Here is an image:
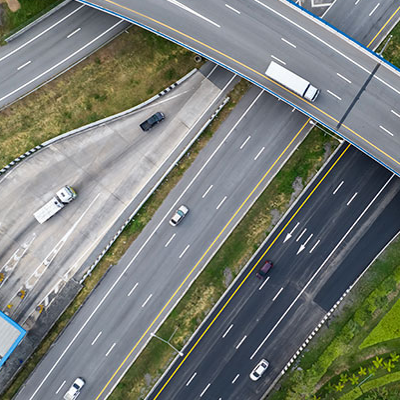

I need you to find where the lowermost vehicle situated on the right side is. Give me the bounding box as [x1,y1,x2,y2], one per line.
[250,356,271,380]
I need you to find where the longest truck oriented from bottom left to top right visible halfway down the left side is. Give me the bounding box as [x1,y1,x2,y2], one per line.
[34,188,80,223]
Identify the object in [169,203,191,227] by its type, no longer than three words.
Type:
car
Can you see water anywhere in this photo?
No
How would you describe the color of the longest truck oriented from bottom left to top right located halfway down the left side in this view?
white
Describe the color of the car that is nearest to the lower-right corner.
white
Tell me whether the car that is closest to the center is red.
No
